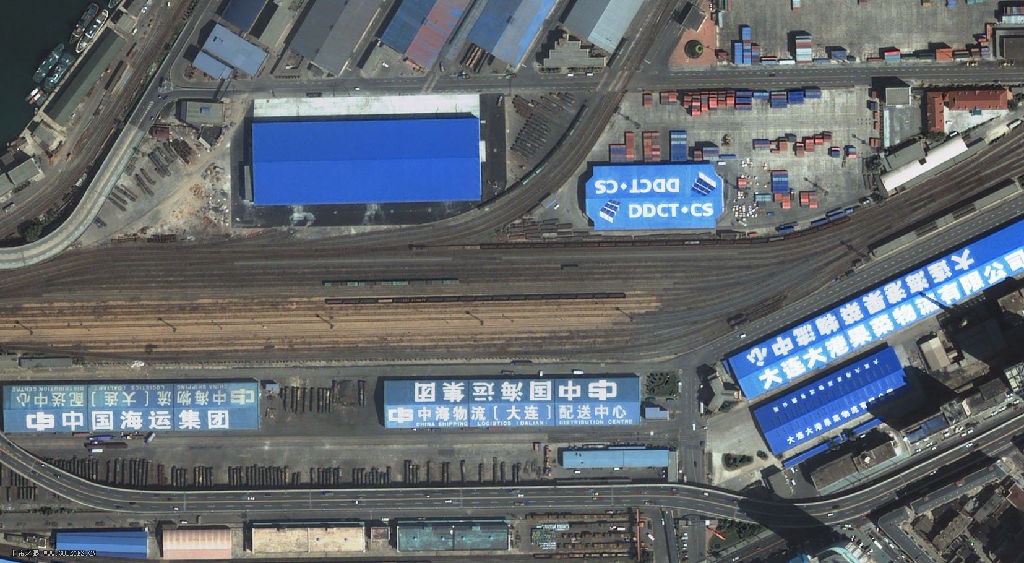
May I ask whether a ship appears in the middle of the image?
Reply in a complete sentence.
No, I can find no ship in the middle of the image.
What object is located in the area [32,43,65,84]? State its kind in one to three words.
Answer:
ship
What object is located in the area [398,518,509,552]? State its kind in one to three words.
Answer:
shed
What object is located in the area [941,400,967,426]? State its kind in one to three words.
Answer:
house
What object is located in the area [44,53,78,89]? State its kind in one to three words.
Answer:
ship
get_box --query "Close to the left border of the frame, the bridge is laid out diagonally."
[0,100,160,269]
